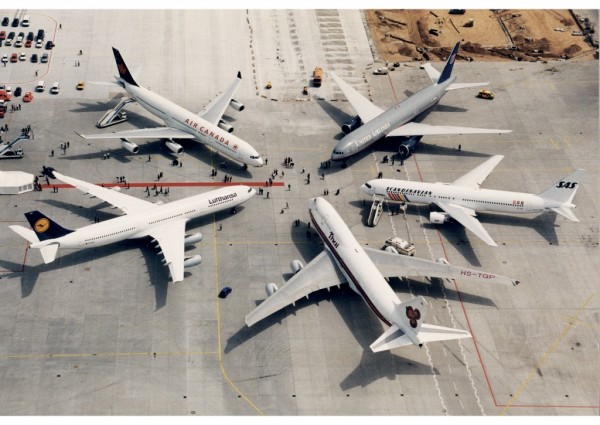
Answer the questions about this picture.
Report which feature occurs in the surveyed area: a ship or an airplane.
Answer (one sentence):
Of the two, only an airplane appears.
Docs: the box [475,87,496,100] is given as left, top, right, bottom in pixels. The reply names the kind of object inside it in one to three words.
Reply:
vehicle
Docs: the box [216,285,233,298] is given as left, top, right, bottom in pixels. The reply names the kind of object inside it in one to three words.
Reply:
vehicle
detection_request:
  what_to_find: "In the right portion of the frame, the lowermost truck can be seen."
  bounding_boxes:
[384,237,417,259]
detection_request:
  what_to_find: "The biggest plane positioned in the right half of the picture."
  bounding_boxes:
[244,196,519,353]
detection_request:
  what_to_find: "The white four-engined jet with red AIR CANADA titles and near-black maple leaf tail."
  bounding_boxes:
[73,47,270,172]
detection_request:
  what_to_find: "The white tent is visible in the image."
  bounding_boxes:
[0,170,35,195]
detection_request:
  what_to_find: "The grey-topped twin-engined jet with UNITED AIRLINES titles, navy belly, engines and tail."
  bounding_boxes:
[332,40,516,166]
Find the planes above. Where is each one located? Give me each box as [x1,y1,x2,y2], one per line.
[73,47,270,172]
[332,40,516,166]
[360,154,585,246]
[7,167,257,284]
[244,196,519,353]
